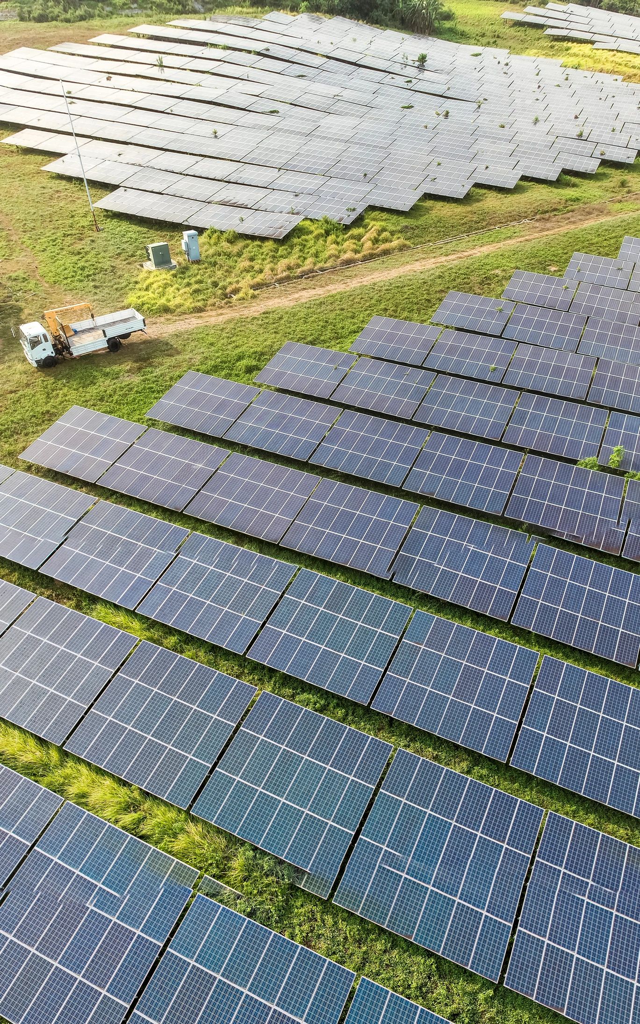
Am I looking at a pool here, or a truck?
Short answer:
truck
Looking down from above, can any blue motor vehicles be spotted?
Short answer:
No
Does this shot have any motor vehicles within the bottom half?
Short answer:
No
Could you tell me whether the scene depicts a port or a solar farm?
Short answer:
solar farm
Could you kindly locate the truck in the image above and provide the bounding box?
[18,301,151,367]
